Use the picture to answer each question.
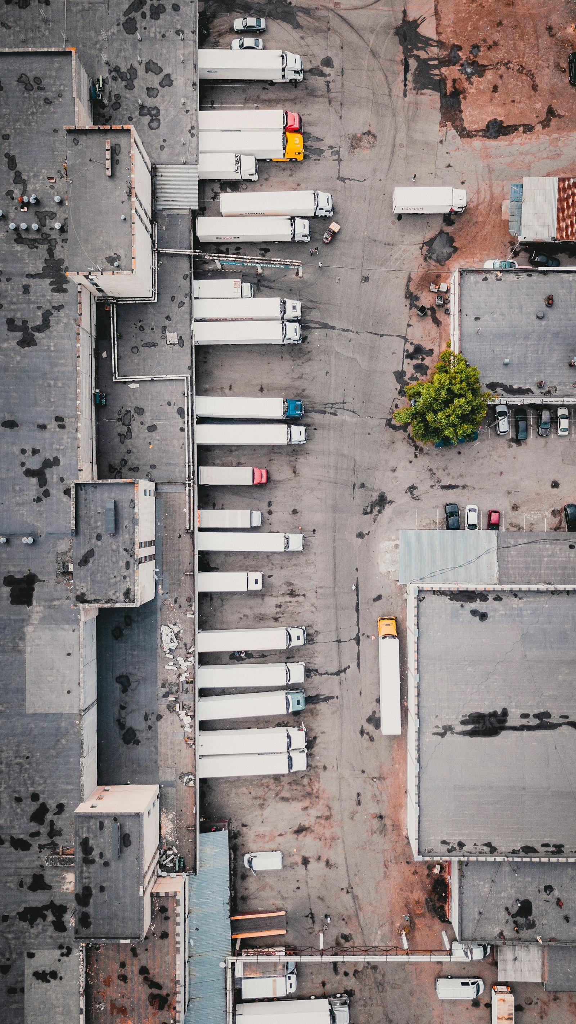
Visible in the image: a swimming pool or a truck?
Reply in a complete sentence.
The one in the frame is a truck.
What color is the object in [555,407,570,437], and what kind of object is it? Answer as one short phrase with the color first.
white car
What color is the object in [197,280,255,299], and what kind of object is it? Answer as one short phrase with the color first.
white vehicle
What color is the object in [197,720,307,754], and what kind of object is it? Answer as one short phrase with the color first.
white truck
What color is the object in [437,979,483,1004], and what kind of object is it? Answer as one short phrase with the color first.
white vehicle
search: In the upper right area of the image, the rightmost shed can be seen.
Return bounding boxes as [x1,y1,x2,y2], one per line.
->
[515,177,576,249]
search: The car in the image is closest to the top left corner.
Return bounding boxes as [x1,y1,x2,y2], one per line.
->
[199,11,212,41]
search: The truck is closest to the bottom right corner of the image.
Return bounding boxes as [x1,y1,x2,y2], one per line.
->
[490,981,514,1024]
